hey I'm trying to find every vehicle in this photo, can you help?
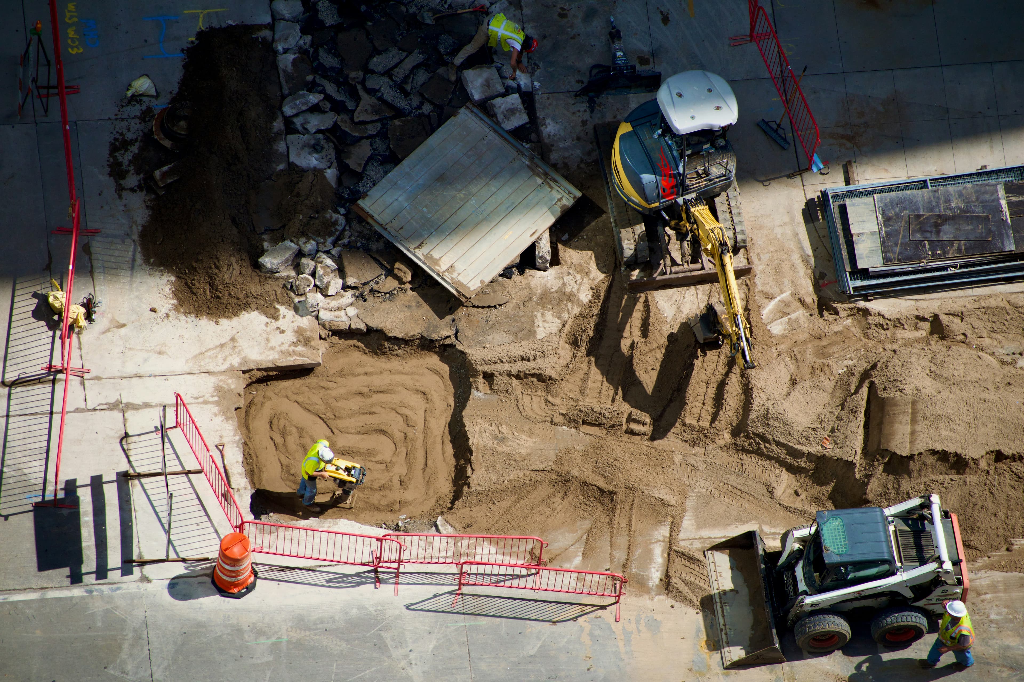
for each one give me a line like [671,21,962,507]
[596,66,761,376]
[706,500,974,670]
